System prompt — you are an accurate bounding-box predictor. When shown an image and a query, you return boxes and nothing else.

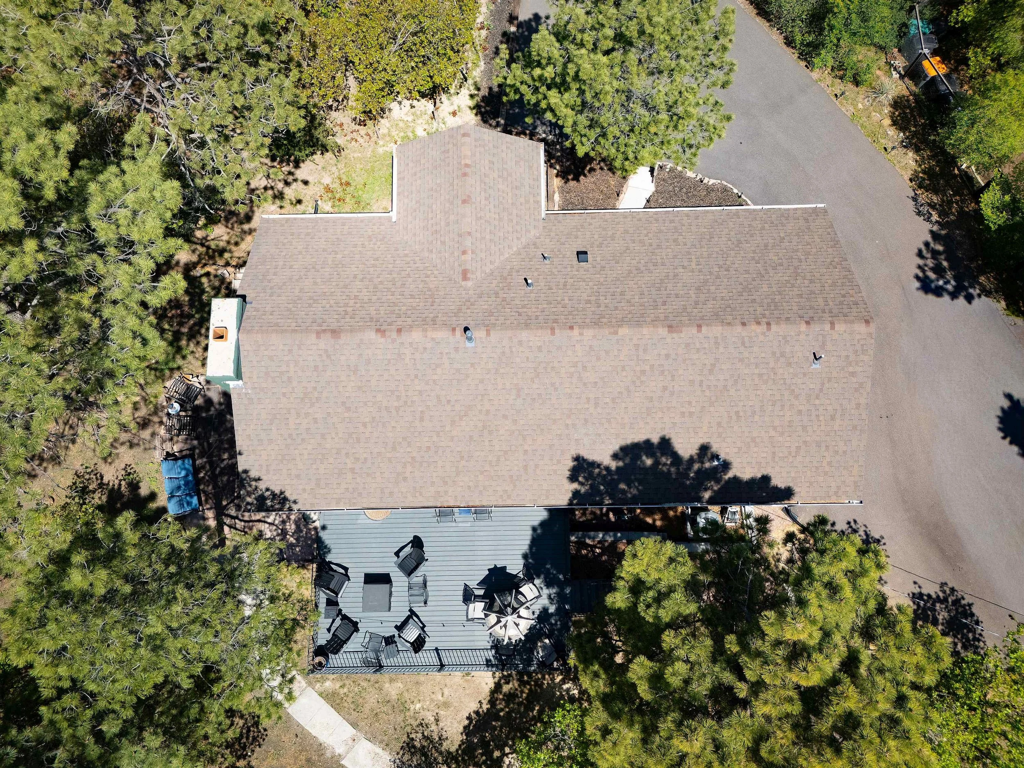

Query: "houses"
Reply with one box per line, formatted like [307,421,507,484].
[207,123,874,513]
